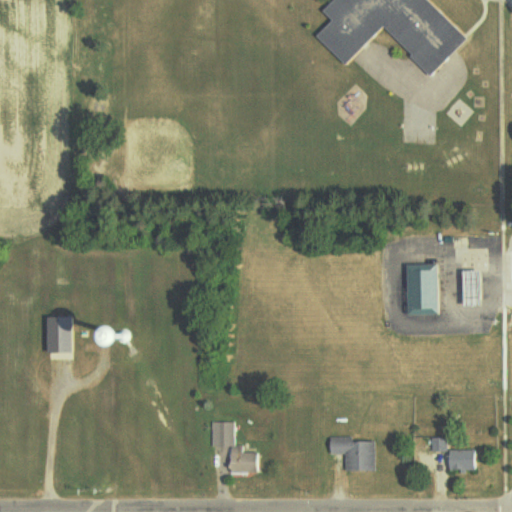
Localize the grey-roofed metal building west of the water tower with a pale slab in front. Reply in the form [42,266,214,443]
[47,317,74,352]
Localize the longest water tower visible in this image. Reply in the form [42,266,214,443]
[92,327,132,349]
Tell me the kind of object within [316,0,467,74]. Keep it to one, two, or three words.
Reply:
building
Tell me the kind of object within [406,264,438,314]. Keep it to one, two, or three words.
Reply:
building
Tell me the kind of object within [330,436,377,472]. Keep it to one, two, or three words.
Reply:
house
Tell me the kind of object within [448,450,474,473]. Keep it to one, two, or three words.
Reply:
house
